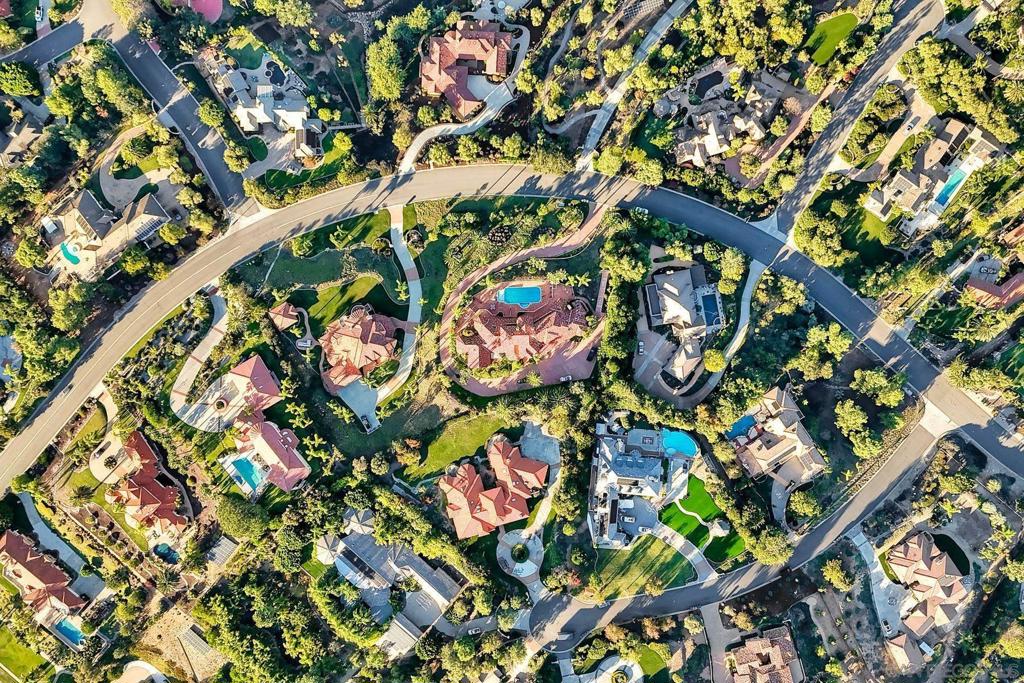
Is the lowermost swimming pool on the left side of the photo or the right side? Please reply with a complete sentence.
The lowermost swimming pool is on the left side of the image.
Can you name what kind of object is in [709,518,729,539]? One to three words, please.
gazebo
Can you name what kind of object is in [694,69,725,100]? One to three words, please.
swimming pool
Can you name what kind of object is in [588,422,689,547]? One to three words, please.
house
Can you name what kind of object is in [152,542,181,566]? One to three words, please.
swimming pool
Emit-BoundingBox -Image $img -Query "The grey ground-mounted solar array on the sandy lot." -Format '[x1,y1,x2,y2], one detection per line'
[175,627,211,659]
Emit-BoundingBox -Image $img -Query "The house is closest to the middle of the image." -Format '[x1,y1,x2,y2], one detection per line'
[460,300,589,368]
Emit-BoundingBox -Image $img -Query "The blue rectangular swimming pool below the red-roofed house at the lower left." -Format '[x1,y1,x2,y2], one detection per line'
[53,618,86,647]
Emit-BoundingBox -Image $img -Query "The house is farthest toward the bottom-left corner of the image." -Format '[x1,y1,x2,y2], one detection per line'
[0,526,90,617]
